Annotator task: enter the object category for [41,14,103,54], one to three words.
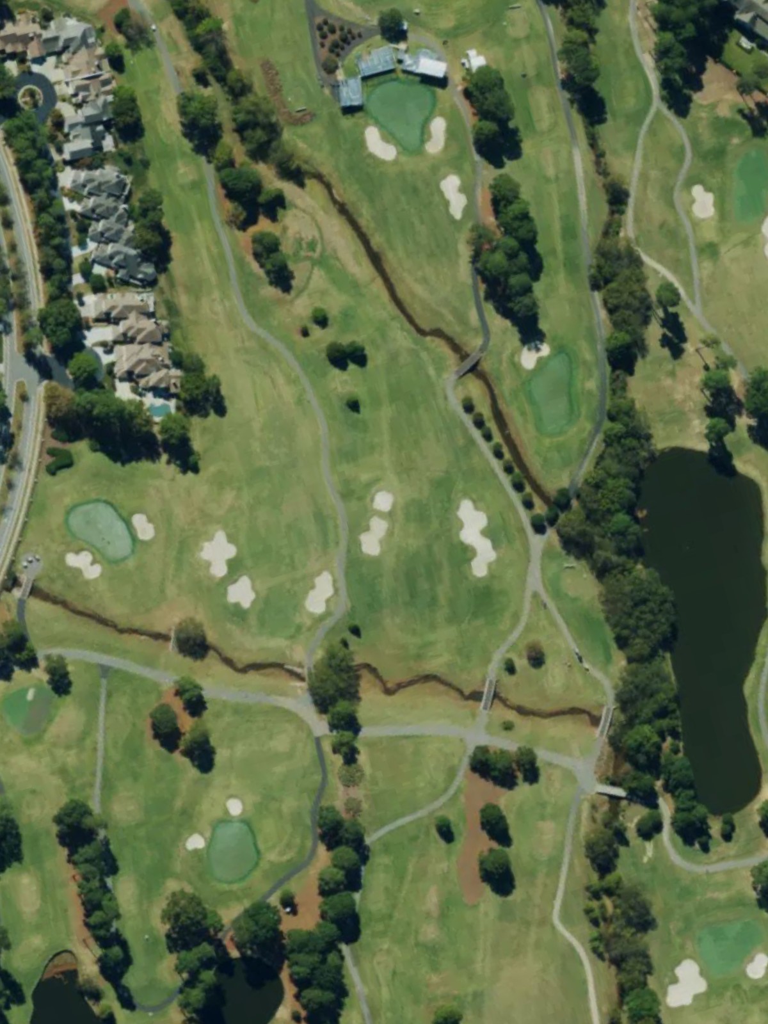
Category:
house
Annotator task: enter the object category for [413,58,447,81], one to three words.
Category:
building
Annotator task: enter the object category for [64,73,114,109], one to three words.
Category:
house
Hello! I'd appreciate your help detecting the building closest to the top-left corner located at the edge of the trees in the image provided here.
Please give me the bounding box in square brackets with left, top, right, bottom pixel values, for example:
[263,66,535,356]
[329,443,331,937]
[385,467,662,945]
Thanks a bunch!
[0,14,47,59]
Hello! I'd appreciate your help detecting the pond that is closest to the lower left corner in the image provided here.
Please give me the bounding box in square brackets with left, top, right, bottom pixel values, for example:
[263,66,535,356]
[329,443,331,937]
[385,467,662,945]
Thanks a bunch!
[23,968,102,1024]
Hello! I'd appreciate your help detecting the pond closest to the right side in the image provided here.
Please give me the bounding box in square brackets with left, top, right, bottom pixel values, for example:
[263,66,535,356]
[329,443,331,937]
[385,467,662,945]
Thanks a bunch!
[641,447,768,816]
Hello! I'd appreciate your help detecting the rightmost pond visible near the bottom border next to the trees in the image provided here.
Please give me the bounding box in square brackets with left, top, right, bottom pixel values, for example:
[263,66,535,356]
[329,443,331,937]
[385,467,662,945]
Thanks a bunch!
[195,953,284,1024]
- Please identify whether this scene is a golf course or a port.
golf course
